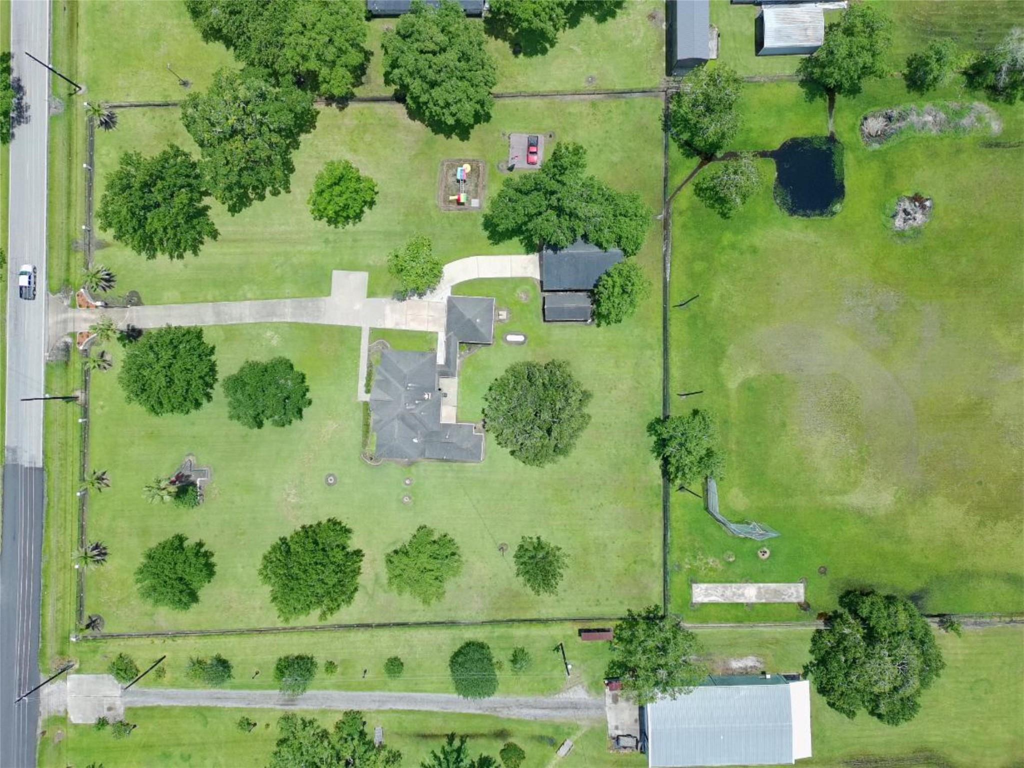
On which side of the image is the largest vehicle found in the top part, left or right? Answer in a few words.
left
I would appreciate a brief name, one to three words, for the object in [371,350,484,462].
house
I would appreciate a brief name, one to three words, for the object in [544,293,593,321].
shed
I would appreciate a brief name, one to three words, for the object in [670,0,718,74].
barn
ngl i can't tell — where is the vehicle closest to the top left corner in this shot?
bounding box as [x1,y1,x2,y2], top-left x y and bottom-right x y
[18,264,38,301]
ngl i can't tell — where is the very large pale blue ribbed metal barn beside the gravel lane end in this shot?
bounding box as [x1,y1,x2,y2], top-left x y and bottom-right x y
[642,672,811,768]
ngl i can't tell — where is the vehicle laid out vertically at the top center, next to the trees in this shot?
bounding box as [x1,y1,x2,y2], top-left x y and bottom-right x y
[526,134,540,165]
